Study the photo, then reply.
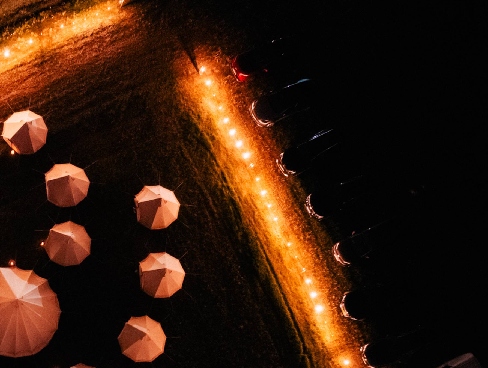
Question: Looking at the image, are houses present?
No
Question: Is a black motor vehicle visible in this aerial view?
Yes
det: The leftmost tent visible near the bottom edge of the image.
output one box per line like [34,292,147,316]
[0,256,76,366]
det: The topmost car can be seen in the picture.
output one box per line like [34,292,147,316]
[228,38,292,84]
